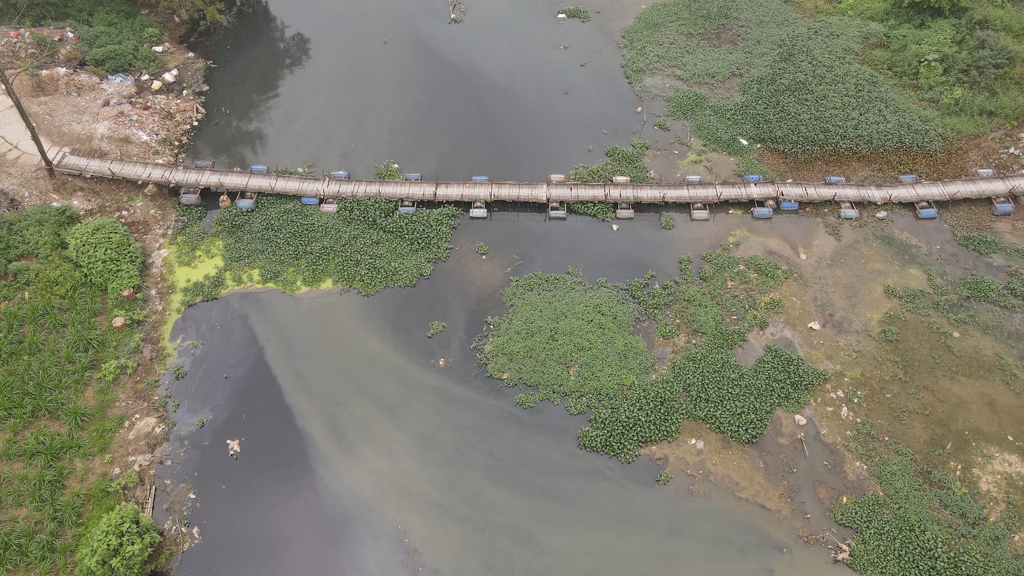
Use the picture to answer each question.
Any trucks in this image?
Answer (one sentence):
No, I can't see a single truck in this photo.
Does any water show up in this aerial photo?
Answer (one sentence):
Yes, the picture does contain water.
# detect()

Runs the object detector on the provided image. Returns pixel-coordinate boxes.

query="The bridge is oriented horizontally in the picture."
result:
[53,147,1024,221]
